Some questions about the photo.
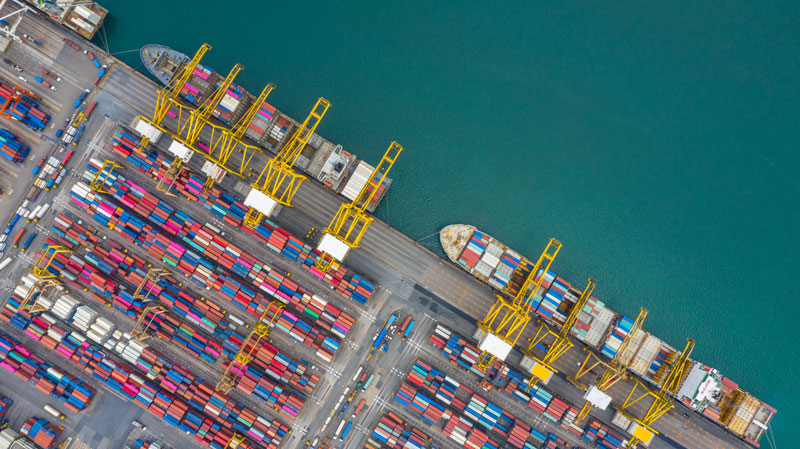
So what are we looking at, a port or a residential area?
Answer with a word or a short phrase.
port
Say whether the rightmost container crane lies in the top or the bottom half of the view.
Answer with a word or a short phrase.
bottom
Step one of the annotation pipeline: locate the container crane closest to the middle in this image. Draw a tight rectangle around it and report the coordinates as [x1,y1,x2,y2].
[316,140,405,273]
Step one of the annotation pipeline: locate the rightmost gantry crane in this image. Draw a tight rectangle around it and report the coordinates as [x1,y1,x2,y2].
[607,337,698,449]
